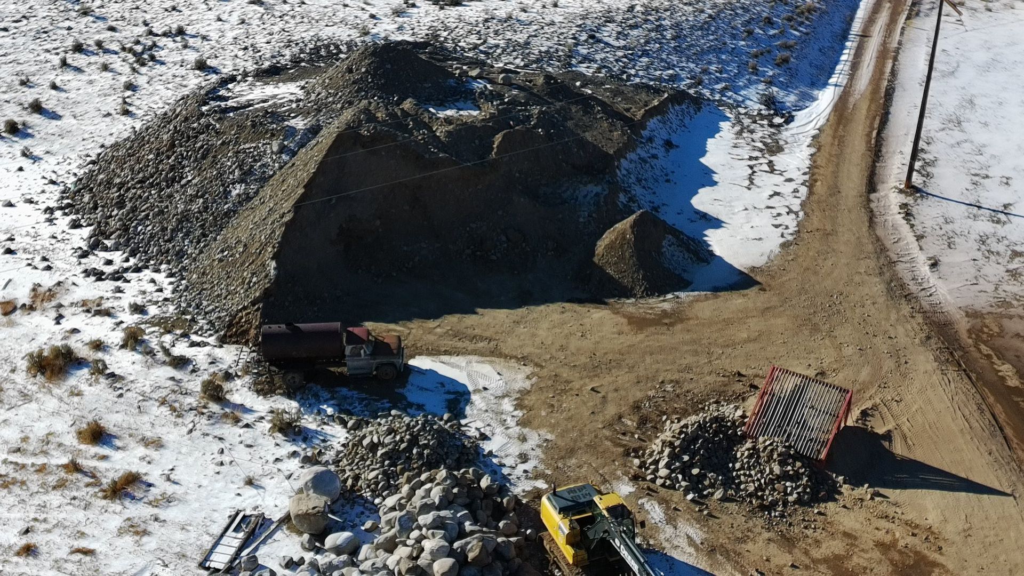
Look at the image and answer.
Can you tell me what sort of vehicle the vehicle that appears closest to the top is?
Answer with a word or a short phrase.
truck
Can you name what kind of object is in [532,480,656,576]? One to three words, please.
work vehicle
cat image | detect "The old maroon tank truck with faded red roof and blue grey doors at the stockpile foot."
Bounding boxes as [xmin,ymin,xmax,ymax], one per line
[251,319,410,390]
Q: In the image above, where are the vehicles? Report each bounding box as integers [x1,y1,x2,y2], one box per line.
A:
[532,480,656,576]
[251,319,410,390]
